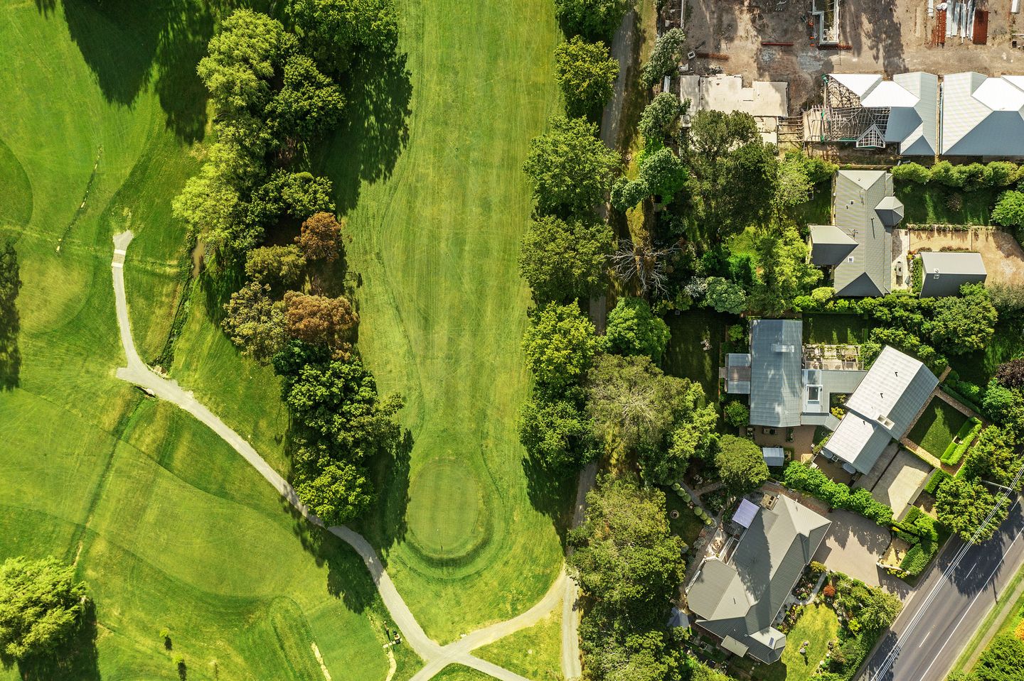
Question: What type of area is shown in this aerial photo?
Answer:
golf course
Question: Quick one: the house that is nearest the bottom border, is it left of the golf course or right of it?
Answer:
to its right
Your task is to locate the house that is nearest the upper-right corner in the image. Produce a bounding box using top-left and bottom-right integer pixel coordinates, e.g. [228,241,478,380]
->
[937,71,1024,156]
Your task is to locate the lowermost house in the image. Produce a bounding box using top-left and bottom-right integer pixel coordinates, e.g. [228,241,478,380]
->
[685,494,832,665]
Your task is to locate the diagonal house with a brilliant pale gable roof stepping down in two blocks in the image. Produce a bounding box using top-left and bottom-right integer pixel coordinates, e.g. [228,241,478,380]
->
[824,345,940,475]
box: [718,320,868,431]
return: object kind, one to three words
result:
house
